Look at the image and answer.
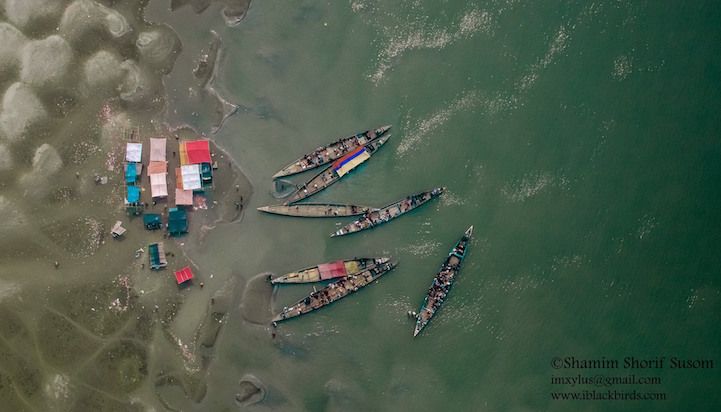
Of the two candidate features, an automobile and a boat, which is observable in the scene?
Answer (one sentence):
It is a boat that can be seen here.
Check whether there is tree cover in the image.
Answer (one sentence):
No, there is no tree cover in the image.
